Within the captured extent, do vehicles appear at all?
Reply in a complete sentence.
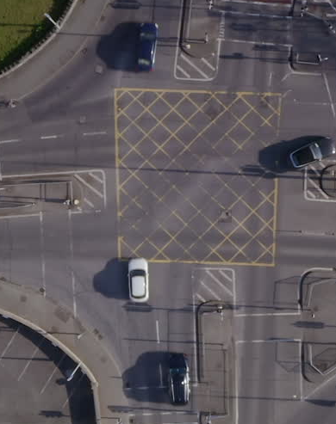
Yes, the photo shows a vehicle.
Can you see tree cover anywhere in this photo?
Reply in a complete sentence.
No, there's no tree cover in this view.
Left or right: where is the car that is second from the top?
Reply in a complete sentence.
The car that is second from the top is on the right side of the image.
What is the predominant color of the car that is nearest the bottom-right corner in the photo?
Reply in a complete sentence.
The car that is nearest the bottom-right corner is black.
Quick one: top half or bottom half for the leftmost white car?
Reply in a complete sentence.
It is in the bottom half that the leftmost white car appears.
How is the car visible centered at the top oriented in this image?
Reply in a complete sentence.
What the image shows is the car visible centered at the top lying from top to bottom.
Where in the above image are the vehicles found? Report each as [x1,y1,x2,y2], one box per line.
[167,354,190,405]
[288,137,336,168]
[136,23,158,71]
[127,258,150,301]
